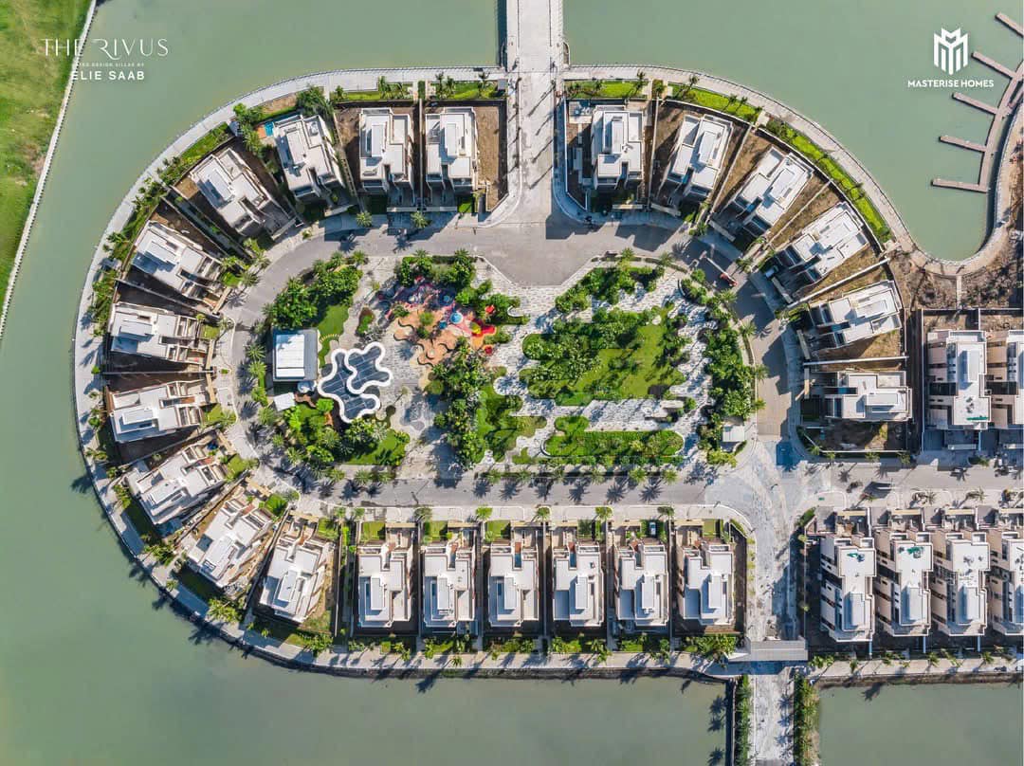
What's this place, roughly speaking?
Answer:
residential area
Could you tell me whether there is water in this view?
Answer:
Yes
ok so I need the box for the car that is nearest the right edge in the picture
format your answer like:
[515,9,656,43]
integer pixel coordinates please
[762,264,780,279]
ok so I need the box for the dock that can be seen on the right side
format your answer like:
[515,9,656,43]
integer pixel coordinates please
[931,10,1024,191]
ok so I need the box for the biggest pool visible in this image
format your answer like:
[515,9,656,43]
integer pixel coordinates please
[255,122,277,139]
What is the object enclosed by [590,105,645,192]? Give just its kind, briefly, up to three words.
house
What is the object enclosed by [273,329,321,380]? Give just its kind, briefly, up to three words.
building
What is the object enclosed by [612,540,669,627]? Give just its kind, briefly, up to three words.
house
